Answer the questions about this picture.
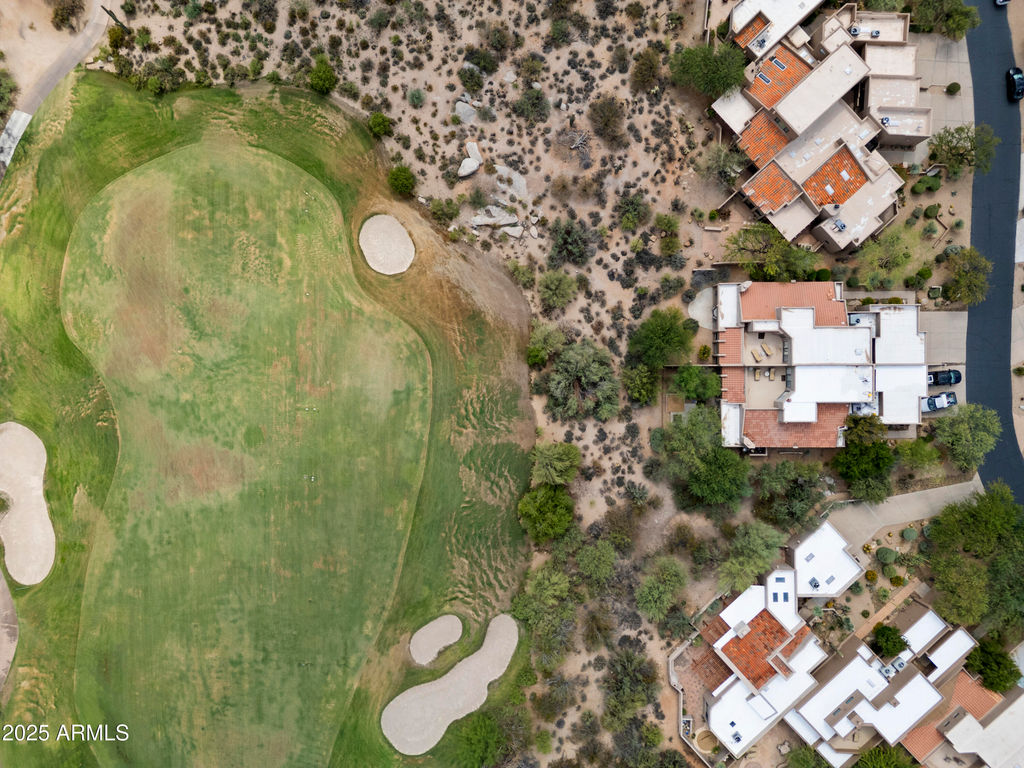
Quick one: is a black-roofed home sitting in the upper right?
No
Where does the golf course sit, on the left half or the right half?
left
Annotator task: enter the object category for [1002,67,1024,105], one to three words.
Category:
car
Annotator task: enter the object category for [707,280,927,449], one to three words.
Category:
house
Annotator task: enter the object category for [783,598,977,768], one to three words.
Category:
house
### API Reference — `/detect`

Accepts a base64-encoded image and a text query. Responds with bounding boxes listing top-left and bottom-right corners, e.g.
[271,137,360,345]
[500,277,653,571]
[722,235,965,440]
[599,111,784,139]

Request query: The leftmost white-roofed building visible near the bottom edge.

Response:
[688,515,865,759]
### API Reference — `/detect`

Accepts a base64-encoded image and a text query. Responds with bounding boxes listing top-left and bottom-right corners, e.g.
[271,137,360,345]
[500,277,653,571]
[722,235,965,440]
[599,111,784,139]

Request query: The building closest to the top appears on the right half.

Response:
[706,0,932,255]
